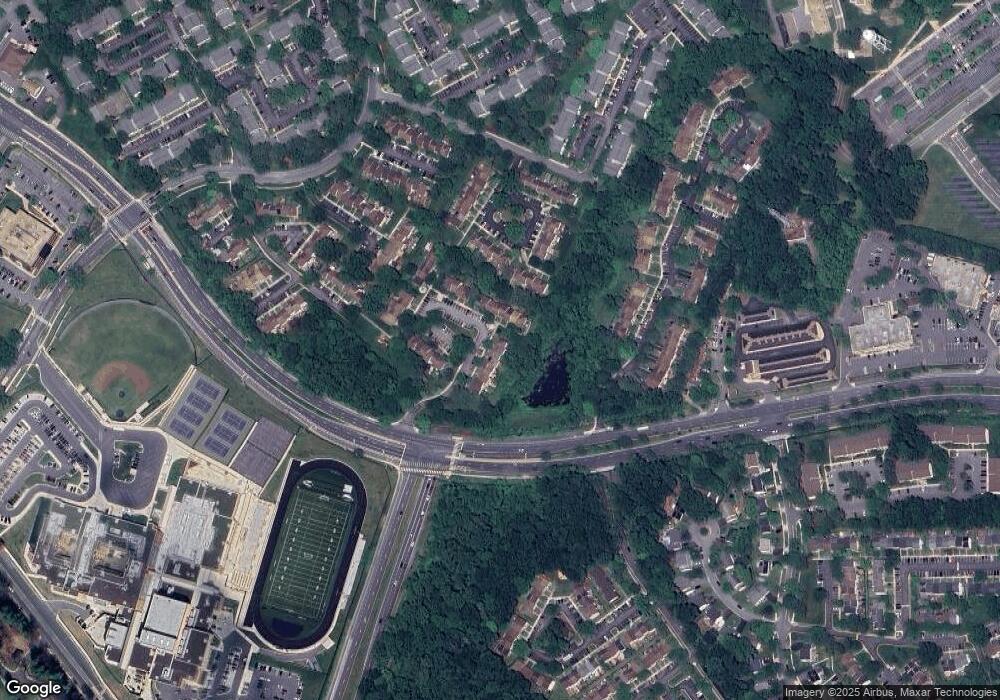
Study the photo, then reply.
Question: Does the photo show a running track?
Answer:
Yes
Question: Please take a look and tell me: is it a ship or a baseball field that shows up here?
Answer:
baseball field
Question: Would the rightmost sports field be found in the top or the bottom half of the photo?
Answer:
bottom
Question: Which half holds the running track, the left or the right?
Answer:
left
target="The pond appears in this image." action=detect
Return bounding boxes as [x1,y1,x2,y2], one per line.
[519,350,569,406]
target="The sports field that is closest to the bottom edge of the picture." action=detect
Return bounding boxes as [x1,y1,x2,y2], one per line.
[263,471,354,638]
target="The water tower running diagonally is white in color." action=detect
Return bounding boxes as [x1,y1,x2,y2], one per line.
[864,27,896,57]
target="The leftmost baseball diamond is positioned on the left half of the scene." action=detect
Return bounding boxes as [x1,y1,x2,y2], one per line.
[56,299,195,421]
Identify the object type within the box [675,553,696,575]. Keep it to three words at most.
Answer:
house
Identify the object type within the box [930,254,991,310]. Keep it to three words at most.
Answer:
building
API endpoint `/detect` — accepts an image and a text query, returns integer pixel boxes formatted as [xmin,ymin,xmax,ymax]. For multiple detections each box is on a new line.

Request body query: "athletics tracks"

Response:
[245,459,365,649]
